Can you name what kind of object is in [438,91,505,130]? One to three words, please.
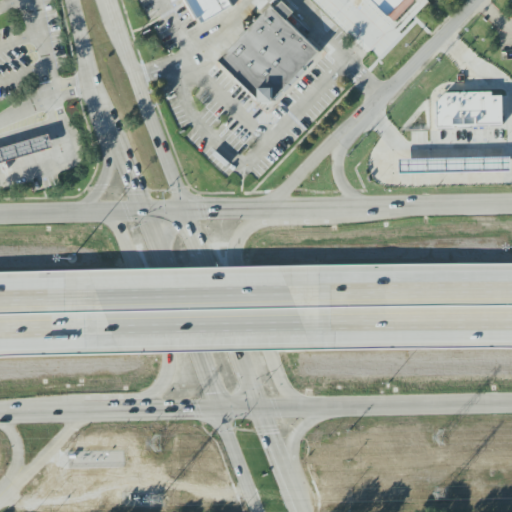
building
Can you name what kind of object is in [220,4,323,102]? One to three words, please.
building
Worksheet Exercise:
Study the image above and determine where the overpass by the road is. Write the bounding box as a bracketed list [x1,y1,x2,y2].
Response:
[0,262,512,356]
